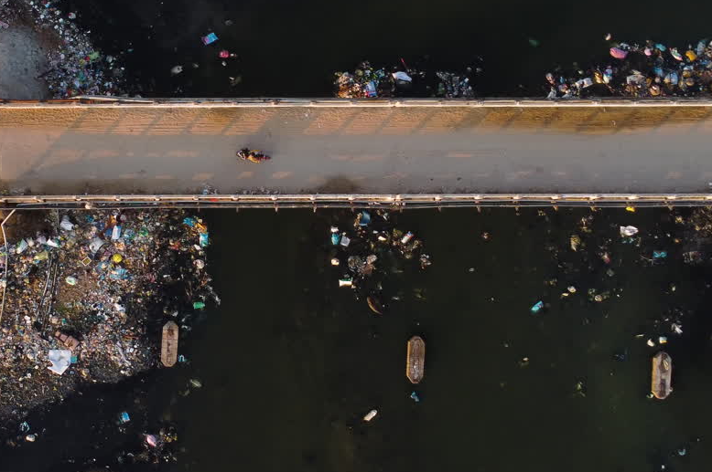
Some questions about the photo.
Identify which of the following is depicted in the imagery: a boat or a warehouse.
boat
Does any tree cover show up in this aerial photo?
No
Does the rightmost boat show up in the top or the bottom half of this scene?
bottom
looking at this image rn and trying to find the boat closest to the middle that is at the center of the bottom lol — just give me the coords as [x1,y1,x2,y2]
[406,336,423,384]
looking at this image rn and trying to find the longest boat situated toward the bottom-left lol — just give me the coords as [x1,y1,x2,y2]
[161,321,178,367]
